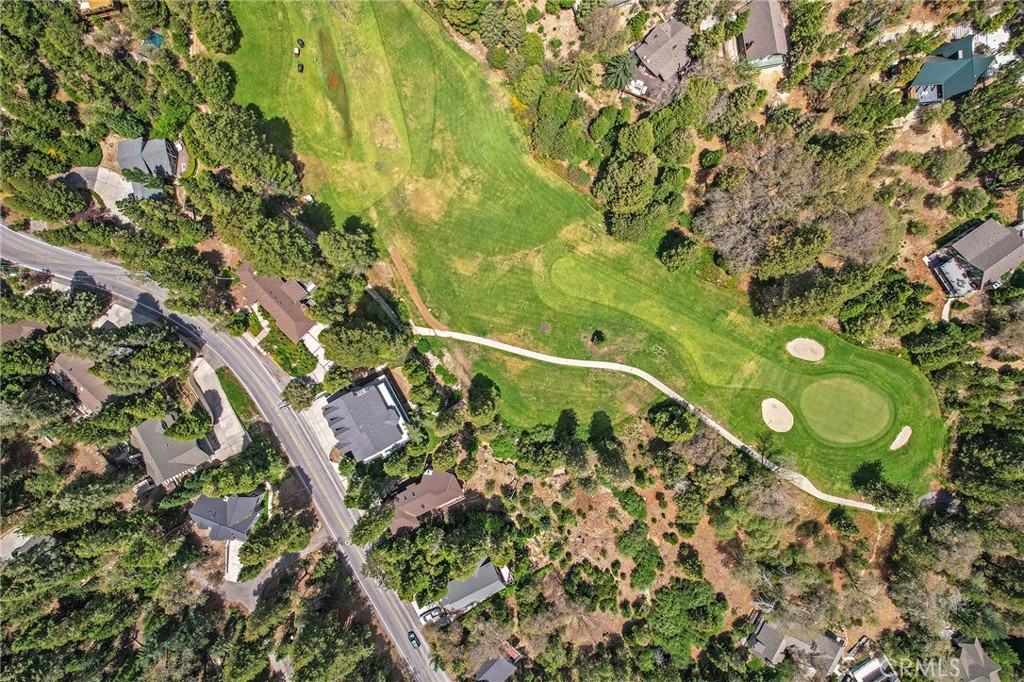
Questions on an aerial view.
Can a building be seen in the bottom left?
Yes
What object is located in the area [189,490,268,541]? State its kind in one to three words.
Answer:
house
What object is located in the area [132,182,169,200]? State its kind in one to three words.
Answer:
building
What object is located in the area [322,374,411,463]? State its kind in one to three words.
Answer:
house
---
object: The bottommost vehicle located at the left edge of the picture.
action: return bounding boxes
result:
[10,544,24,562]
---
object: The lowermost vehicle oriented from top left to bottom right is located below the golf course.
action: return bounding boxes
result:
[407,630,420,647]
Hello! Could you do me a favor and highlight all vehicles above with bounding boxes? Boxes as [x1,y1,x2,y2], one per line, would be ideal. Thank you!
[422,608,440,621]
[297,39,306,50]
[305,195,314,203]
[294,47,301,58]
[407,630,420,647]
[10,544,24,562]
[298,64,305,74]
